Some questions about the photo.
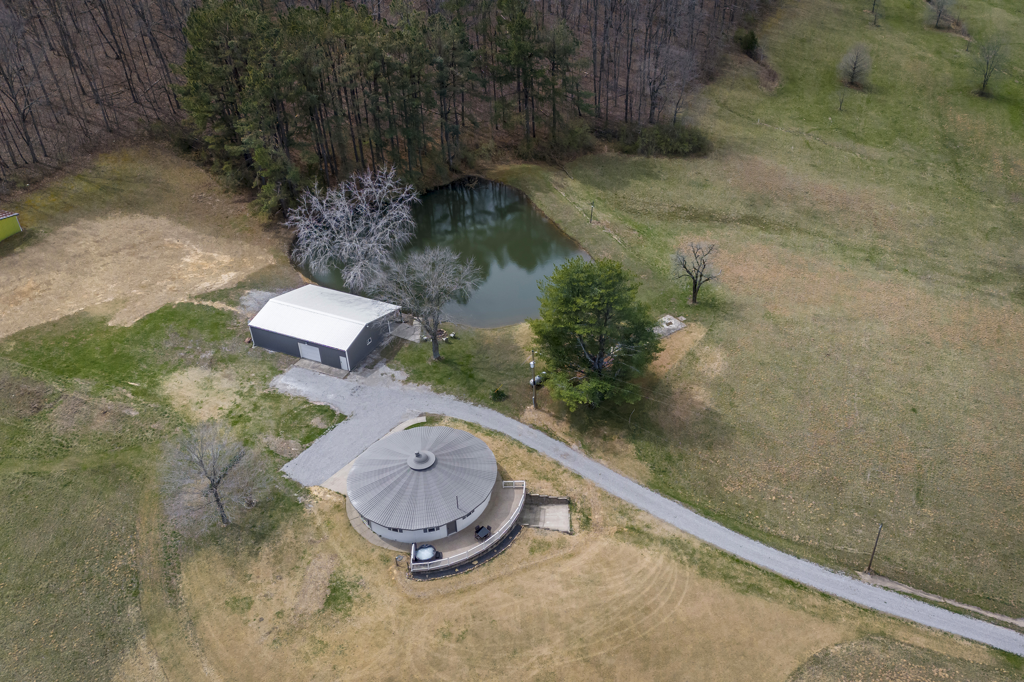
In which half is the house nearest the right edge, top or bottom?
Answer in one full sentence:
The bottom half of the photo is where the house nearest the right edge is.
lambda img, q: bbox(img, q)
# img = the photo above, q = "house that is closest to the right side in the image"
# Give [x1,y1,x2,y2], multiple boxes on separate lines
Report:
[346,424,496,542]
